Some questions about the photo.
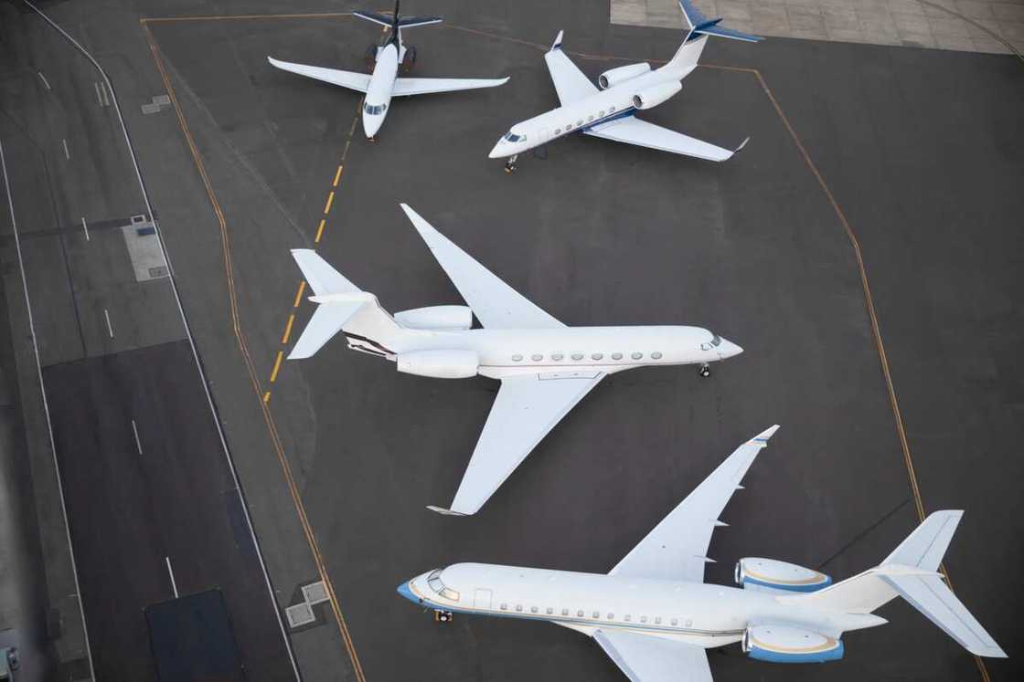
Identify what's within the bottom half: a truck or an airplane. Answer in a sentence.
The one visible within the bottom half is an airplane.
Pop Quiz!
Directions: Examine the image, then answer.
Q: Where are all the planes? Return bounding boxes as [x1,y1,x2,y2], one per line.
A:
[397,425,1007,682]
[489,0,764,171]
[287,204,744,514]
[269,0,511,144]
